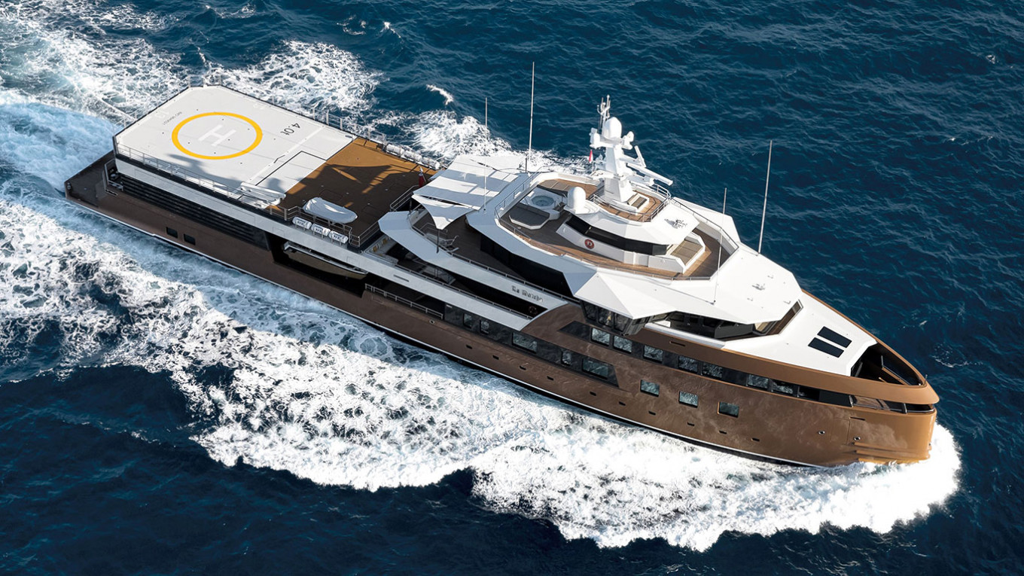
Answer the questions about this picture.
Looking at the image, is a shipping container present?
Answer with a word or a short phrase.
No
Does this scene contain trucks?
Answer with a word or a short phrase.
No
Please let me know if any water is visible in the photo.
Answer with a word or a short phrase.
Yes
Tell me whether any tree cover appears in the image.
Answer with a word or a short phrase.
No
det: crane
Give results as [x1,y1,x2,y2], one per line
[236,179,285,208]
